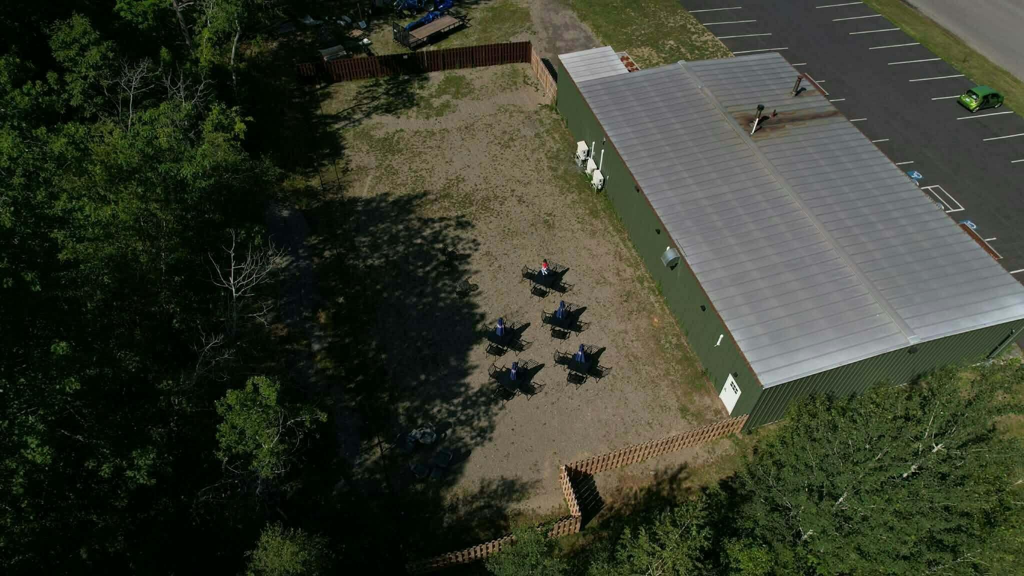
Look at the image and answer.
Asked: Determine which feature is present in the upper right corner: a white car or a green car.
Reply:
green car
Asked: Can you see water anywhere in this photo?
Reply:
No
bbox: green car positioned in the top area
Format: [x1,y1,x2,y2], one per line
[957,80,1007,111]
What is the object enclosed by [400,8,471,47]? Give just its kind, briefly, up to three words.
trailer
